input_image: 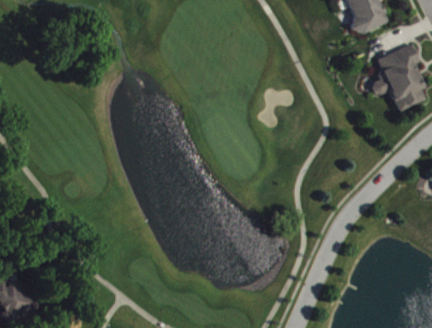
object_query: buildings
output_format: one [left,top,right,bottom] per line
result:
[0,282,34,317]
[378,42,431,106]
[352,0,390,32]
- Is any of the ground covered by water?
Yes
